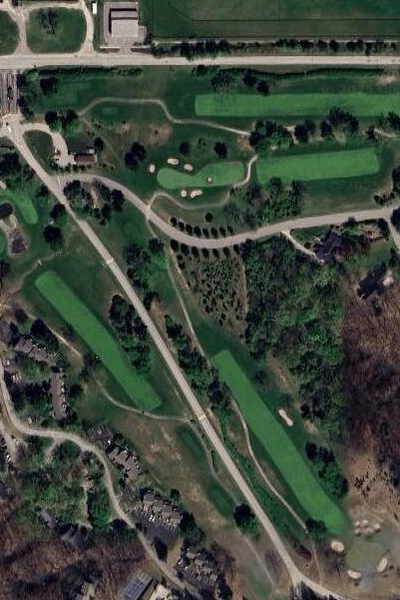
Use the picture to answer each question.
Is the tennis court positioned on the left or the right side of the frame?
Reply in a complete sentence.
The tennis court appears in the left half of the scene.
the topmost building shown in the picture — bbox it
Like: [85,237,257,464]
[110,7,139,37]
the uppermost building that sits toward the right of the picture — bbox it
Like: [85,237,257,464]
[317,228,352,257]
